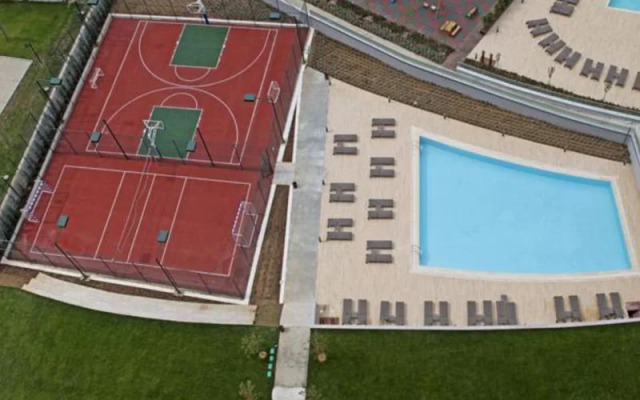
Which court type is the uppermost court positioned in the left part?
basketball court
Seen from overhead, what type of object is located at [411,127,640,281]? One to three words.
swimming pool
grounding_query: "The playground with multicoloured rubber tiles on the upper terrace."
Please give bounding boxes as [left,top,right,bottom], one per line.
[358,0,498,49]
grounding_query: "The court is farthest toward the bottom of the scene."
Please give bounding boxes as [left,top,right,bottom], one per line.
[9,152,277,298]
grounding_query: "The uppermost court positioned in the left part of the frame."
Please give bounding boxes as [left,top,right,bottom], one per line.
[54,17,309,172]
